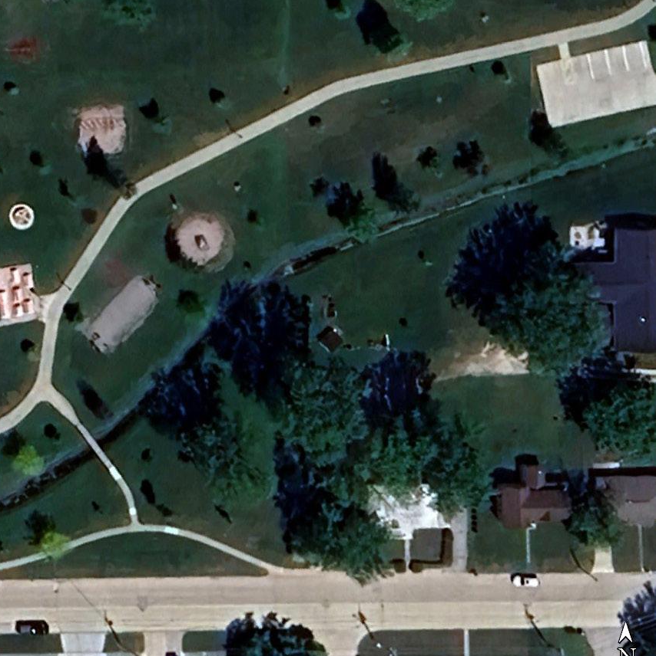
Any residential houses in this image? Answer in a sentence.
Yes, you can see a residential house in this photo.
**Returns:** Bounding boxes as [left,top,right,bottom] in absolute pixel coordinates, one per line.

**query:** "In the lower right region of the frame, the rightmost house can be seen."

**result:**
[599,473,656,530]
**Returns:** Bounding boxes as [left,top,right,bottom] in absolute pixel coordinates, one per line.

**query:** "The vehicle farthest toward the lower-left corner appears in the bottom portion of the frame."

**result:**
[19,624,48,637]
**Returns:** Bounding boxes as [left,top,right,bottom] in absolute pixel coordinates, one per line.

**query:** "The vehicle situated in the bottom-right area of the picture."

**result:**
[513,578,542,591]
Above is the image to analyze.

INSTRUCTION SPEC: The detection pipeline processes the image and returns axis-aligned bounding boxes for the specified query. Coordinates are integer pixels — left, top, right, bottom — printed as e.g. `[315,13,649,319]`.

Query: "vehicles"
[513,578,542,591]
[19,624,48,637]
